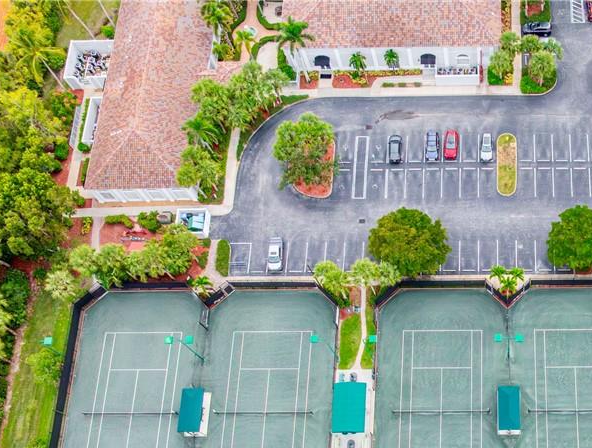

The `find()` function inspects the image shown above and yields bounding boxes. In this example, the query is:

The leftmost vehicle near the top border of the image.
[521,20,552,37]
